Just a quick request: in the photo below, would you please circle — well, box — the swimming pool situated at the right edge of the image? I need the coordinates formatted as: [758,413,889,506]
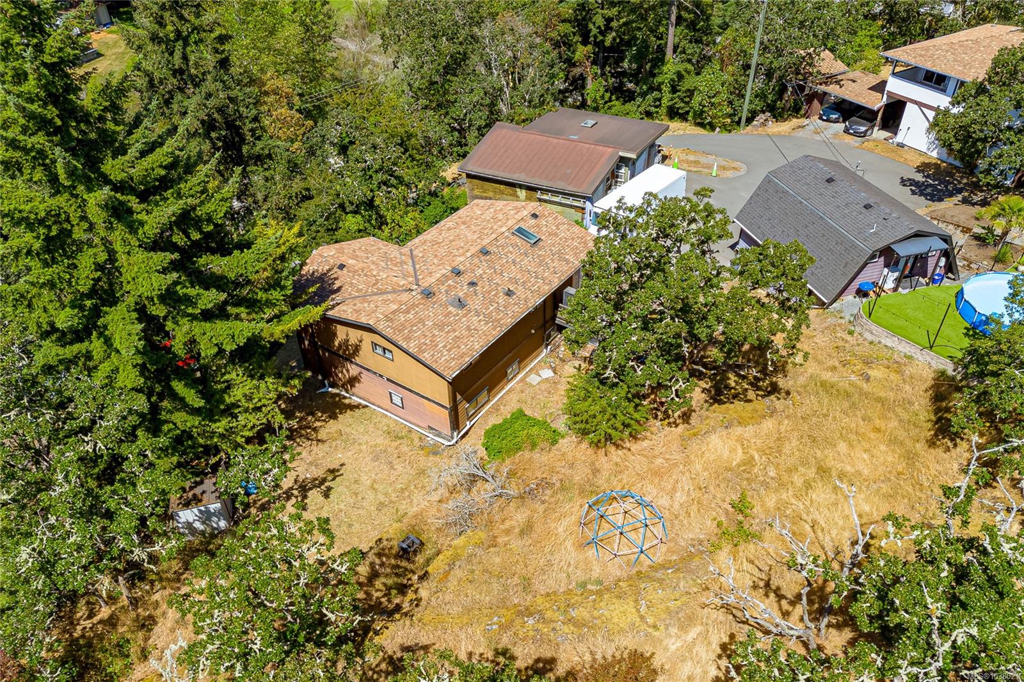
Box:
[951,275,1024,353]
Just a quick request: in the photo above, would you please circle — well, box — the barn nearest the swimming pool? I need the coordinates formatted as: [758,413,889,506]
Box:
[734,155,962,307]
